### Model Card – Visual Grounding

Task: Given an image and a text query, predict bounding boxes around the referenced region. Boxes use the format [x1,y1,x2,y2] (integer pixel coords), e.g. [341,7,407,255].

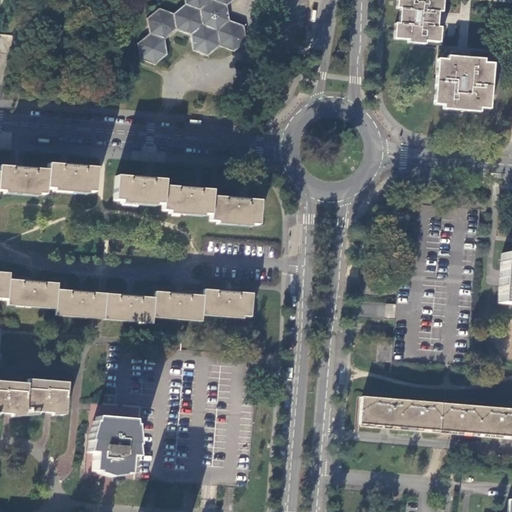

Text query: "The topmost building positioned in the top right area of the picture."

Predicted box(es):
[388,0,446,46]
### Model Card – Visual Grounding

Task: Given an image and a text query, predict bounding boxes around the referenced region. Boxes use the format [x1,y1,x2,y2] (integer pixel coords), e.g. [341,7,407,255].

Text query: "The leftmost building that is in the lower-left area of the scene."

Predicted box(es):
[0,378,71,420]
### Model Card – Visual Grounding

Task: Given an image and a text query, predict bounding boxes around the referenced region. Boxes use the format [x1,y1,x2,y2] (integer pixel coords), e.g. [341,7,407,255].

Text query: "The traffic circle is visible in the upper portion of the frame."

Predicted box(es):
[282,96,384,203]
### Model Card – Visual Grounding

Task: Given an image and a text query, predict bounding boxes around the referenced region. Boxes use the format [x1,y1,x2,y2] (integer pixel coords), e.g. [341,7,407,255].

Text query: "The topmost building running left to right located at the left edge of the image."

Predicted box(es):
[0,162,100,201]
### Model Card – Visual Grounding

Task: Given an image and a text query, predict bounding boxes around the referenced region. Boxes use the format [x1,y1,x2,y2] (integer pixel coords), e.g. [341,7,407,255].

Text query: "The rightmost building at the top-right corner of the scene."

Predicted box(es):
[432,55,498,113]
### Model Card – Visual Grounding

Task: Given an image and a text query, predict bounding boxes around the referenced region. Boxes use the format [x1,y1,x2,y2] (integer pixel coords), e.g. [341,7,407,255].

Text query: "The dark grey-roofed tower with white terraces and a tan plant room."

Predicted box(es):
[84,416,146,480]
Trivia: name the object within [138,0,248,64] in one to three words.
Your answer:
building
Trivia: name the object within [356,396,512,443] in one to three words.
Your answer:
building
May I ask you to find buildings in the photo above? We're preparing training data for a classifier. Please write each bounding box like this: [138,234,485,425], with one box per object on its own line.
[383,304,396,318]
[0,378,71,420]
[496,246,512,304]
[432,55,498,113]
[138,0,248,64]
[113,174,266,232]
[0,34,11,100]
[84,416,146,480]
[356,396,512,443]
[0,271,253,325]
[388,0,446,46]
[0,162,100,201]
